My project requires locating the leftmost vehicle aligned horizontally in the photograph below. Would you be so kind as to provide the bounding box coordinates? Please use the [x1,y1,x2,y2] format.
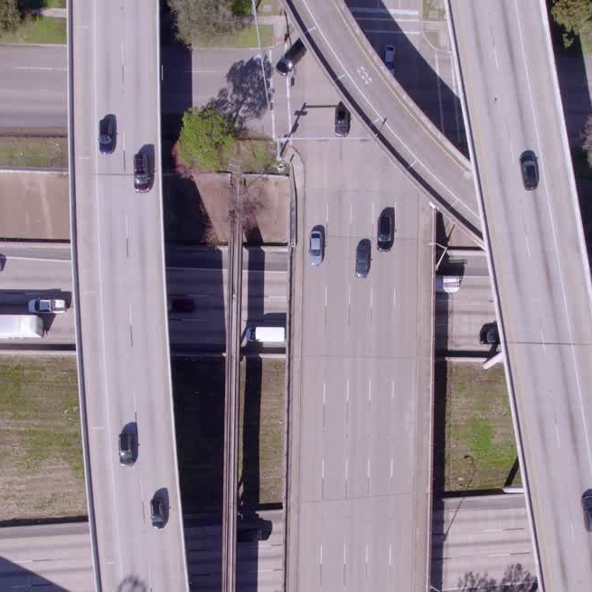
[0,316,46,340]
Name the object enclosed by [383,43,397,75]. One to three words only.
vehicle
